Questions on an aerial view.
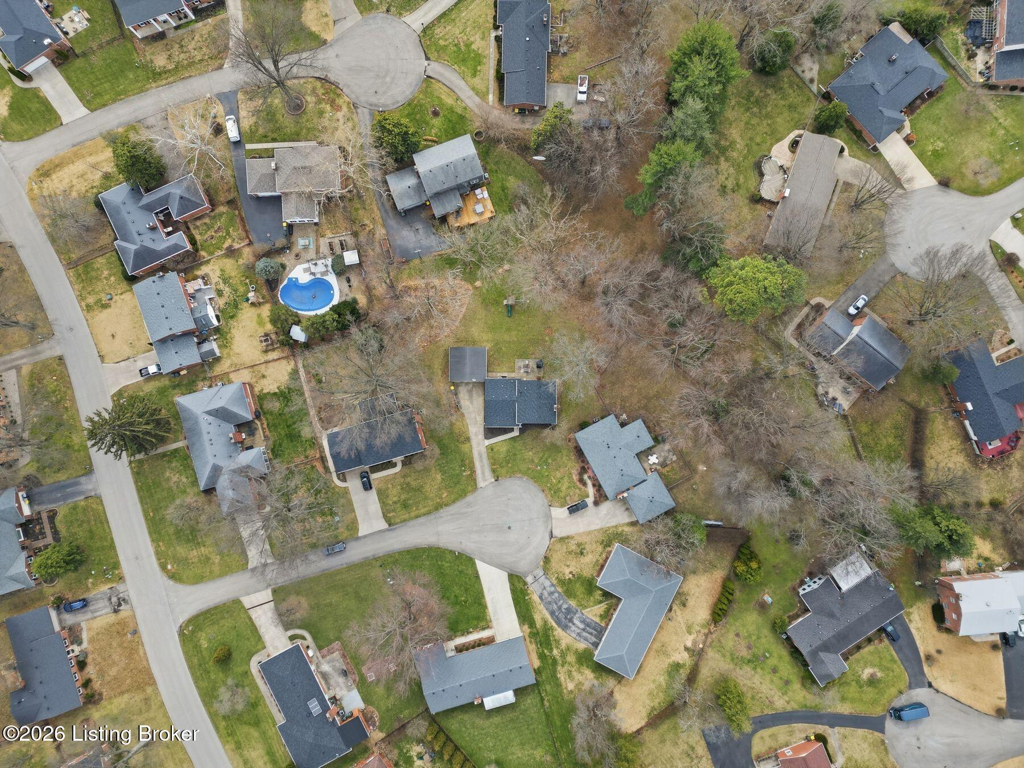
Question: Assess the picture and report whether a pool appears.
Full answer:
Yes, the image includes a pool.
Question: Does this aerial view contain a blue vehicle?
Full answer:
Yes, there's a blue vehicle down there.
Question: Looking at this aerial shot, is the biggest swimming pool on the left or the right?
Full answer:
The biggest swimming pool is on the left side of the image.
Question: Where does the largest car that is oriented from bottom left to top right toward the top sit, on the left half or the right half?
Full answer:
The largest car that is oriented from bottom left to top right toward the top appears in the right half of the scene.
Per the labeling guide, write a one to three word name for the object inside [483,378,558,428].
house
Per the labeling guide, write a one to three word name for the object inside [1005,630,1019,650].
car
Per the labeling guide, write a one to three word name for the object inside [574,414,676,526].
house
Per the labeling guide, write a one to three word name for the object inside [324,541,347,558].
car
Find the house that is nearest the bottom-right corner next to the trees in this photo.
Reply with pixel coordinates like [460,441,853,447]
[936,563,1024,637]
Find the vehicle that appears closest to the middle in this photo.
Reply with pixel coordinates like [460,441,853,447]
[567,500,590,515]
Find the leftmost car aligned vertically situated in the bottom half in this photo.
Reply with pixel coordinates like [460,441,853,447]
[359,471,372,493]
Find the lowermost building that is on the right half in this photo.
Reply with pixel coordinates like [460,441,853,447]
[776,736,833,768]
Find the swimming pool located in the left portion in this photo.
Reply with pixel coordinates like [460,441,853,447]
[279,260,339,314]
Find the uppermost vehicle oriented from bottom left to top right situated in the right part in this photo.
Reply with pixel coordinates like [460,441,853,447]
[848,293,870,315]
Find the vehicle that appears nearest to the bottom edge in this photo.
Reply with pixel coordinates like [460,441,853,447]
[890,702,931,721]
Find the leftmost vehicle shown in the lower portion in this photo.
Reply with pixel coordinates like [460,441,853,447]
[61,598,85,613]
